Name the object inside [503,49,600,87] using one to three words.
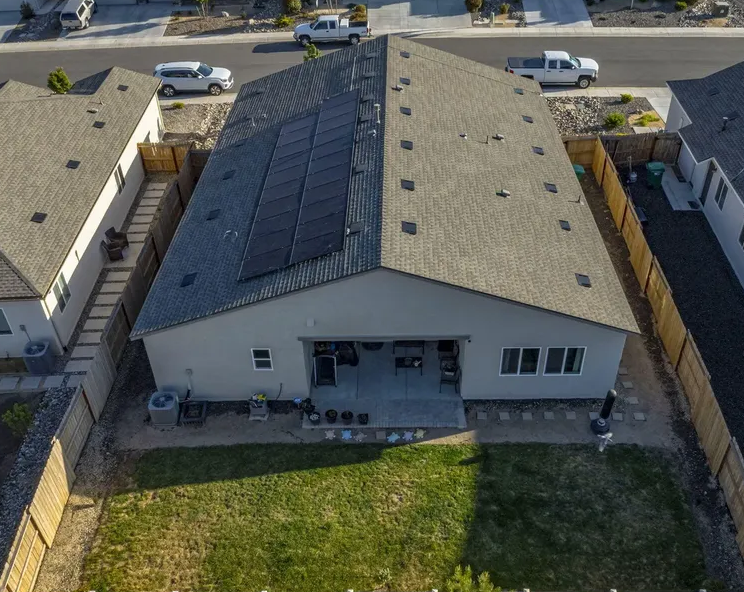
truck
